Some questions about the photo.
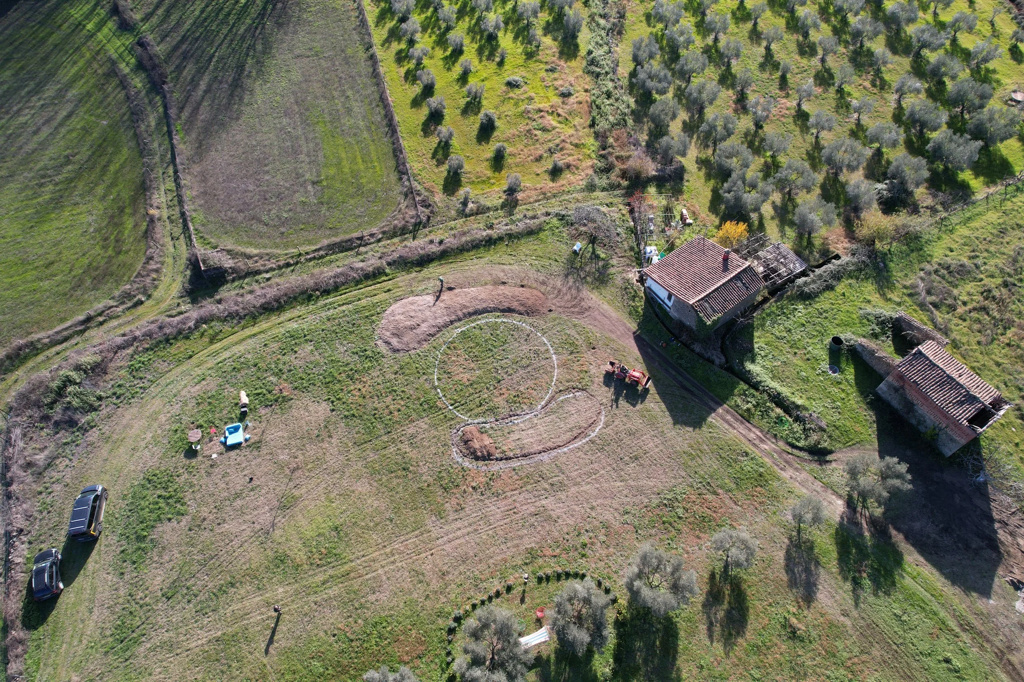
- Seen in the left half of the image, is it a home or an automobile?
automobile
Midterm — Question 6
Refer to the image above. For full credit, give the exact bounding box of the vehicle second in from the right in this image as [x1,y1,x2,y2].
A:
[70,484,109,543]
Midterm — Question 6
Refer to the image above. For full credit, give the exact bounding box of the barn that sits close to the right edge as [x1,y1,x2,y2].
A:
[875,341,1017,457]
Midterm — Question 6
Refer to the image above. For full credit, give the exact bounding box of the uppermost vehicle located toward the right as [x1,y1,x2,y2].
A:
[604,361,650,390]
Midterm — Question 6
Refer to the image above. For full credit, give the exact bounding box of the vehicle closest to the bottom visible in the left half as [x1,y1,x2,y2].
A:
[31,546,64,605]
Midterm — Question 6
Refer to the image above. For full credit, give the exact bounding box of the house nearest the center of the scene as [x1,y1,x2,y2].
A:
[639,234,766,339]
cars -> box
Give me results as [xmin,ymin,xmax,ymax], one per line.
[70,484,109,543]
[31,546,64,605]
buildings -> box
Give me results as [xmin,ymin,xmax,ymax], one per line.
[639,234,766,339]
[875,341,1017,457]
[750,241,808,287]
